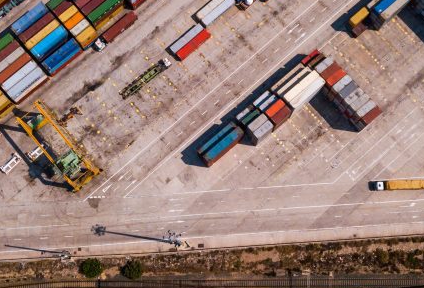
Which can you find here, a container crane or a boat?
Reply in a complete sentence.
There is a container crane in the scene.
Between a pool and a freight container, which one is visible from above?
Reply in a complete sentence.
There is a freight container in the scene.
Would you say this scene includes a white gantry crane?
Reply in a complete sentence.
No, the frame has no white gantry crane in it.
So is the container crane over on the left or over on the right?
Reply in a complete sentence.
It is on the left.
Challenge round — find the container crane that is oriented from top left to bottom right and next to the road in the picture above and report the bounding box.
[15,100,107,195]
